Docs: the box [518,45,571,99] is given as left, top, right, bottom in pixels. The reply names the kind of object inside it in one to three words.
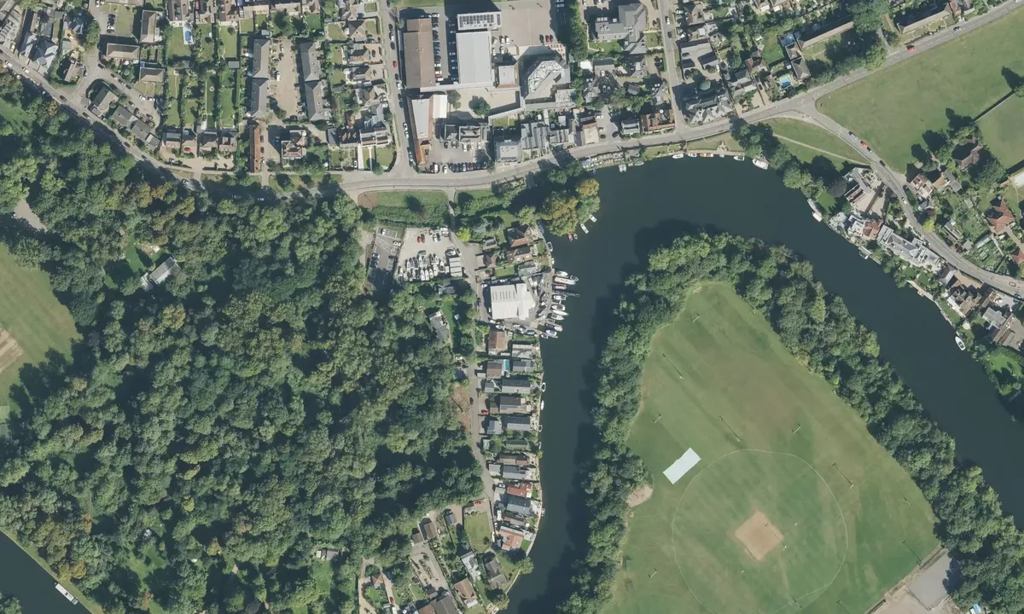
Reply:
building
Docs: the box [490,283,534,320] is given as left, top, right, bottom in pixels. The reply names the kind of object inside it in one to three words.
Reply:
shed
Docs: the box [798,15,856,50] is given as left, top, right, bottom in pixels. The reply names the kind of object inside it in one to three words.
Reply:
house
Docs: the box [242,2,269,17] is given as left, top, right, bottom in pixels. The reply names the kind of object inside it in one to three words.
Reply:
house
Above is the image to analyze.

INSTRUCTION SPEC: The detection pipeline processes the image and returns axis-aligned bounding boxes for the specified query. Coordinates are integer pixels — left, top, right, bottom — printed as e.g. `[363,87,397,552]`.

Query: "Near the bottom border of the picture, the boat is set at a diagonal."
[55,583,78,604]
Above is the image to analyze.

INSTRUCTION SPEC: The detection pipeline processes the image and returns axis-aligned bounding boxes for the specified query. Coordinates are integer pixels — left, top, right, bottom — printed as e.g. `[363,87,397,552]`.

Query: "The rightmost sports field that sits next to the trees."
[603,282,941,614]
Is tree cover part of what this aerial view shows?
Yes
